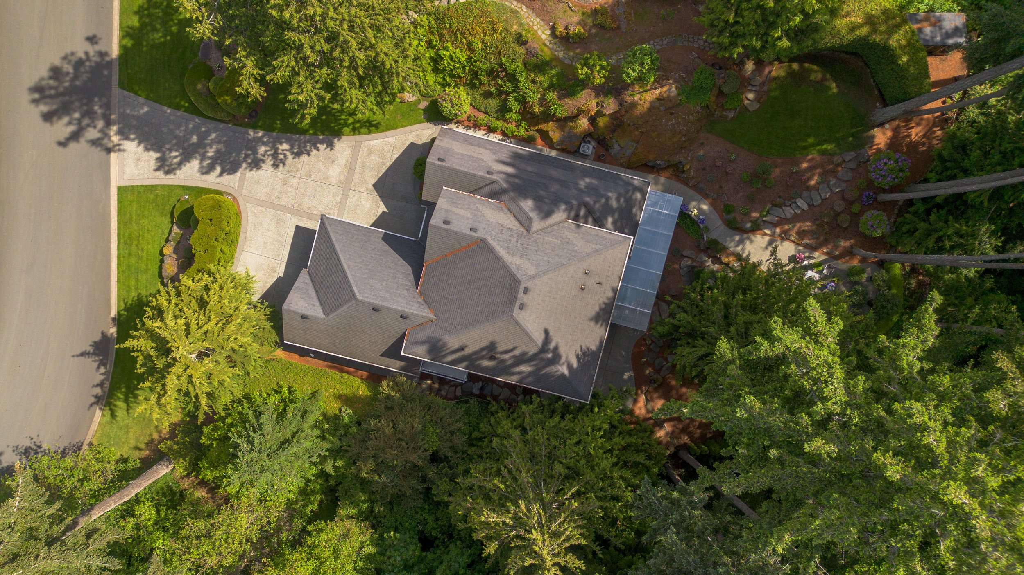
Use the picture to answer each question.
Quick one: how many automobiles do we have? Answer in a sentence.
The count of automobiles is 0.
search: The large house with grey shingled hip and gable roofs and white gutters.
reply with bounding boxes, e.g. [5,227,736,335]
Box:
[281,124,683,405]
